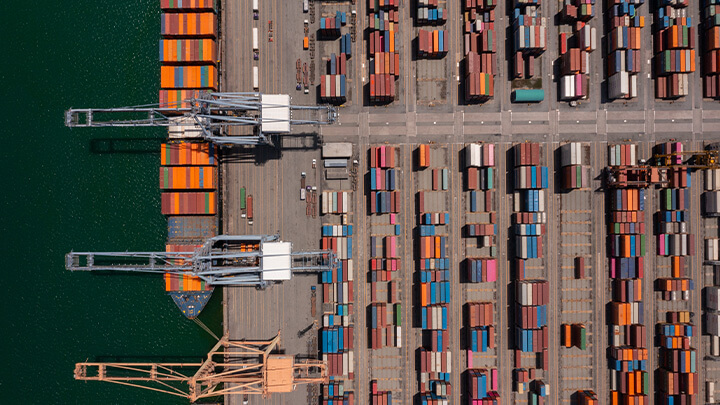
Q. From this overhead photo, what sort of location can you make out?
port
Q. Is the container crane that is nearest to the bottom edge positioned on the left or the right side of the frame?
left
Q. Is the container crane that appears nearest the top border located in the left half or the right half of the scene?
left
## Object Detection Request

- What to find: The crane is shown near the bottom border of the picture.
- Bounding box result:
[75,326,328,405]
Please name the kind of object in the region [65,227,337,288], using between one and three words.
container crane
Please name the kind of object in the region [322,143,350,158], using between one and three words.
building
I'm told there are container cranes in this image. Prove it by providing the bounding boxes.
[598,167,669,187]
[63,92,335,157]
[65,227,337,288]
[75,326,328,405]
[642,151,720,171]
